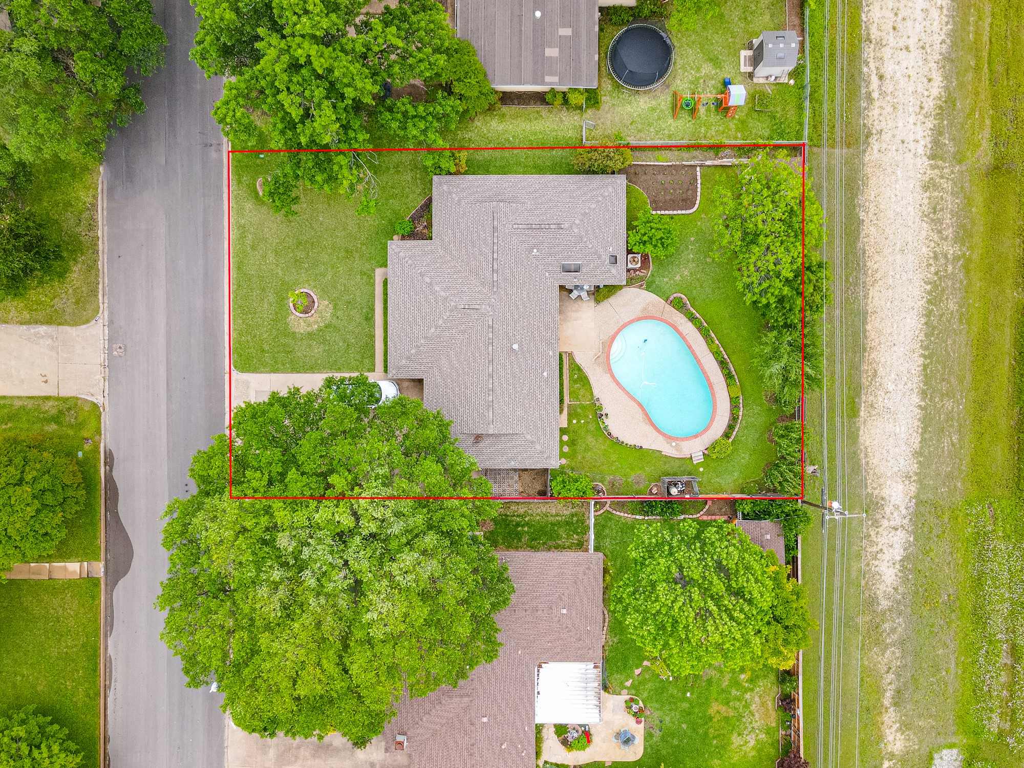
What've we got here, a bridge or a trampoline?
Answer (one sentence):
Of the two, only a trampoline appears.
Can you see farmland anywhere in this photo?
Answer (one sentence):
No, there is no farmland in the image.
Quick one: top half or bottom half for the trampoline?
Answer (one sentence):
The trampoline is in the top half of the image.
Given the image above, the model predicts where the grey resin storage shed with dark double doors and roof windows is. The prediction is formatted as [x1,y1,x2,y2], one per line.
[753,31,803,77]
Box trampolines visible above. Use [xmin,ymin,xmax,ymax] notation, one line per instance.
[607,18,674,94]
